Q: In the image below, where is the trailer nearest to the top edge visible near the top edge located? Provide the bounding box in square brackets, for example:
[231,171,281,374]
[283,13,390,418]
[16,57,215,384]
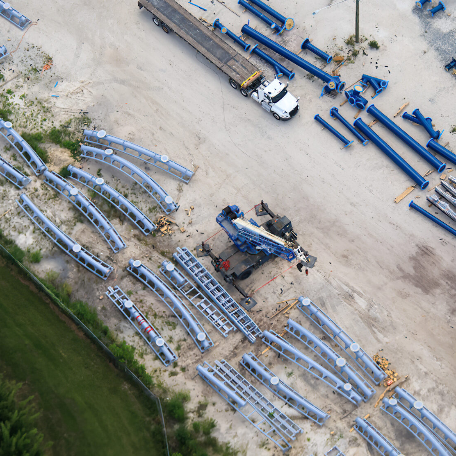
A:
[138,0,260,87]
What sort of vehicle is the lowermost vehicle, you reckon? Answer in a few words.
truck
